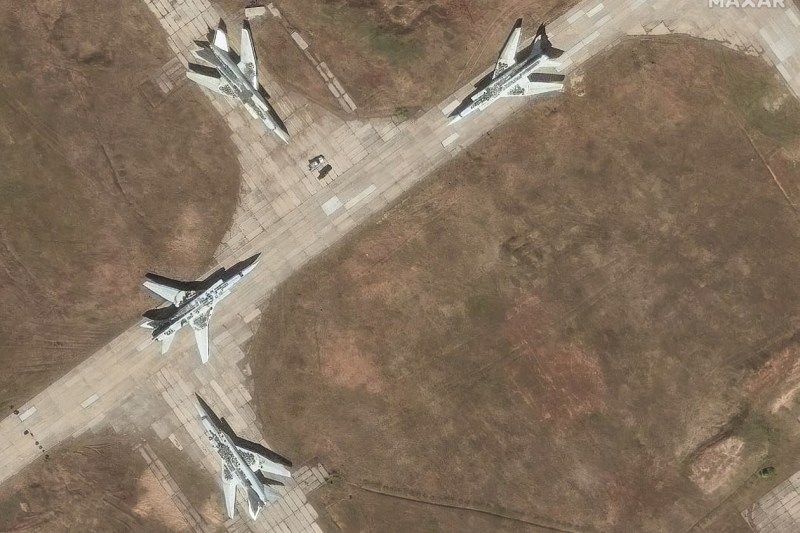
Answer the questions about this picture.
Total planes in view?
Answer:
four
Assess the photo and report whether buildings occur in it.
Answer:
No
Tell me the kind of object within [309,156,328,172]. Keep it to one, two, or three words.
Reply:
vehicle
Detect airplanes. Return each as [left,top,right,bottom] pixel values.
[195,399,292,518]
[448,26,566,125]
[184,28,288,143]
[140,260,259,365]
